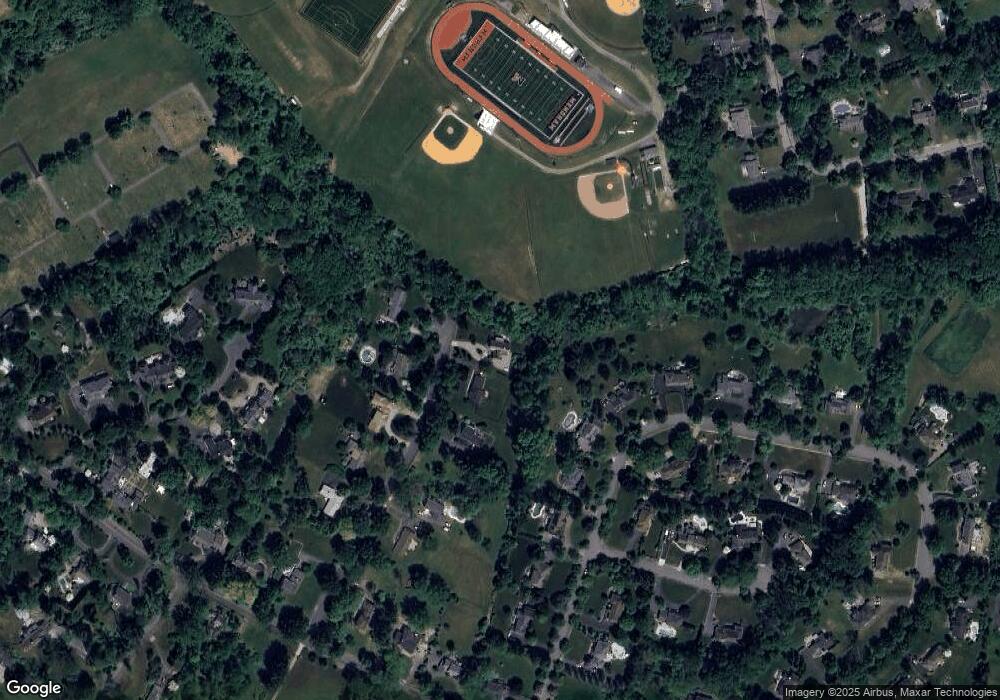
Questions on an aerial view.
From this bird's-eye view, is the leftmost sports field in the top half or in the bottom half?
top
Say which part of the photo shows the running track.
top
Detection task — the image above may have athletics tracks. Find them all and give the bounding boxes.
[433,2,613,156]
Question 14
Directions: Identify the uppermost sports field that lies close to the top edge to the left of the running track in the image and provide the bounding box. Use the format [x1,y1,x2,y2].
[301,0,398,55]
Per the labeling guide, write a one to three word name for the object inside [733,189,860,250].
sports field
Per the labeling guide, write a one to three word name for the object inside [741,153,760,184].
house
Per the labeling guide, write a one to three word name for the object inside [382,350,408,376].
house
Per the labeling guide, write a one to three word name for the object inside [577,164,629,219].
baseball field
